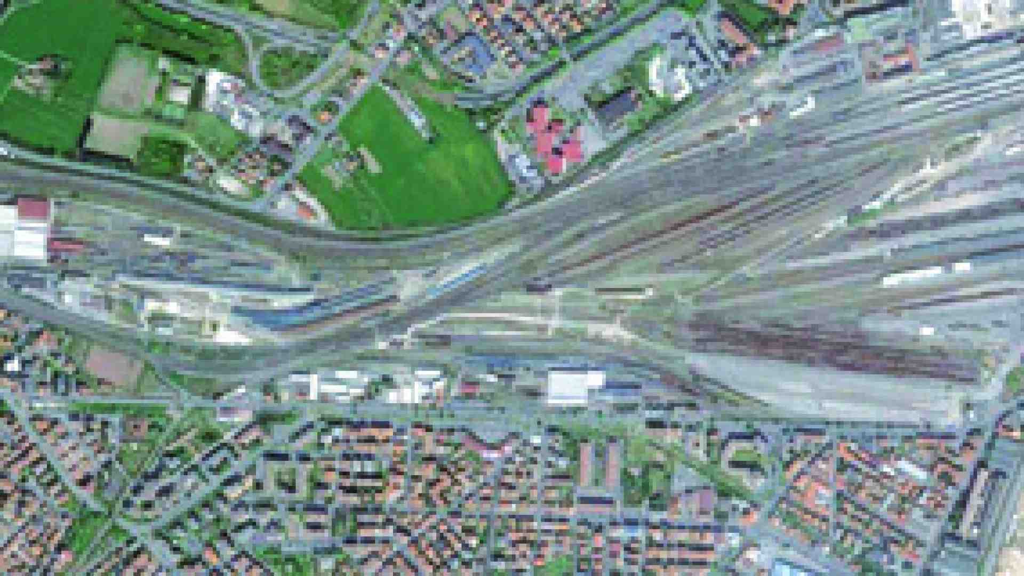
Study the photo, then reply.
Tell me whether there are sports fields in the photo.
Yes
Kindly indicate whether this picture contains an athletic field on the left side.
Yes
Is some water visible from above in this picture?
No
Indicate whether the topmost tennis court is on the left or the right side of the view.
right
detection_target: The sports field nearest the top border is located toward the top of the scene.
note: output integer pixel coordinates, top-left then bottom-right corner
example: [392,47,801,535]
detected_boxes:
[97,51,149,111]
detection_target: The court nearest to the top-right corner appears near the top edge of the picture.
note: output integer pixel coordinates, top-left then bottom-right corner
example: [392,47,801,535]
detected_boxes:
[849,17,872,41]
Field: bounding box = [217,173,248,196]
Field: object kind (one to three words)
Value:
barn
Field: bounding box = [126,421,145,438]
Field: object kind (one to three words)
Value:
house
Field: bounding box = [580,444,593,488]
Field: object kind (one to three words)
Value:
building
